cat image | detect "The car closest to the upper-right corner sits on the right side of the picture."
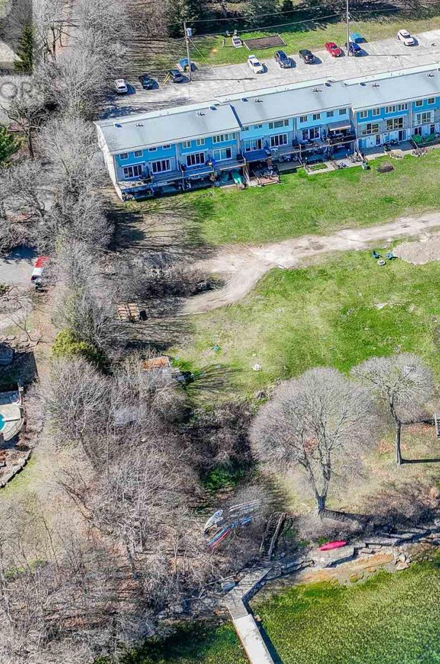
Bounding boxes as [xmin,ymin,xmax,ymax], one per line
[396,25,417,43]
